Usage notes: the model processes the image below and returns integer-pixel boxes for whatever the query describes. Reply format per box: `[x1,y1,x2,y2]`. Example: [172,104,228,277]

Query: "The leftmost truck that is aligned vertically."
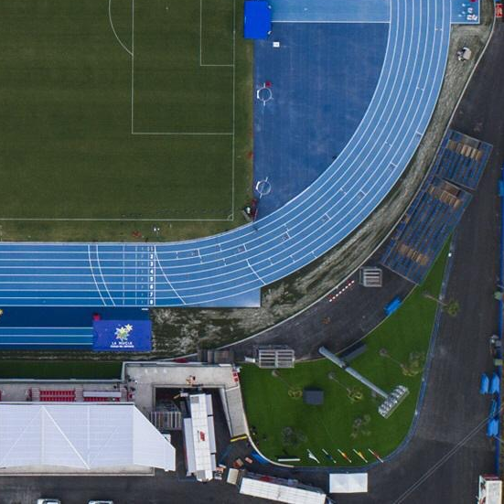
[179,389,215,479]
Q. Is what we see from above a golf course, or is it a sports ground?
sports ground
